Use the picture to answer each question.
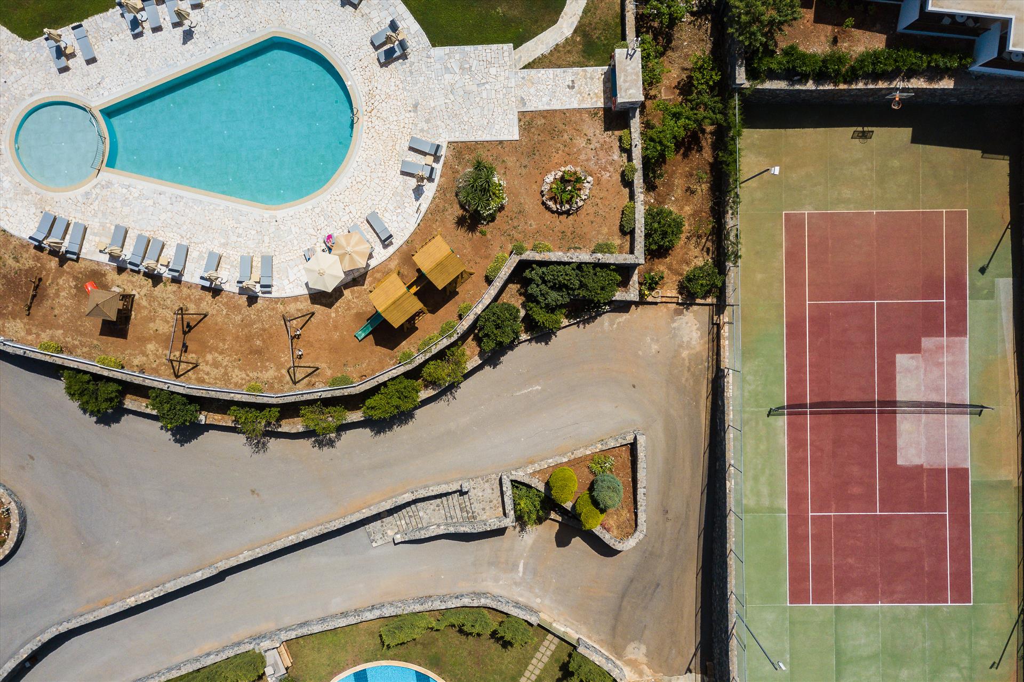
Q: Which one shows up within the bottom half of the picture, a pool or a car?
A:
pool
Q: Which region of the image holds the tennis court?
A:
right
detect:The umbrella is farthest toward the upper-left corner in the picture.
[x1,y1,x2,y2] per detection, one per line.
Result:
[44,28,72,48]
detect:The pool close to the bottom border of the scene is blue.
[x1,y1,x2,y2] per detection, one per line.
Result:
[325,661,450,682]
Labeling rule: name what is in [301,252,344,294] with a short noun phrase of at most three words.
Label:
umbrella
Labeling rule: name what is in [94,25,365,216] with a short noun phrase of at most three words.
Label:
swimming pool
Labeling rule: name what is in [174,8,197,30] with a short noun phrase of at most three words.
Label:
umbrella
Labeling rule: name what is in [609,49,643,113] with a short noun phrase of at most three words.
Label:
shed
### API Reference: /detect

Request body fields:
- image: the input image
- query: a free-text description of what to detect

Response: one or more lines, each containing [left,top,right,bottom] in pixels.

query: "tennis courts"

[721,104,1024,682]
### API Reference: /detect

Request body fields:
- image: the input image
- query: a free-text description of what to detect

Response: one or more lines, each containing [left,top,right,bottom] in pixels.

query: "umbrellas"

[122,0,148,21]
[106,246,130,262]
[142,259,168,274]
[301,252,344,294]
[44,28,72,48]
[240,279,261,296]
[383,29,399,45]
[414,168,428,186]
[174,8,197,30]
[328,230,372,272]
[45,238,68,254]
